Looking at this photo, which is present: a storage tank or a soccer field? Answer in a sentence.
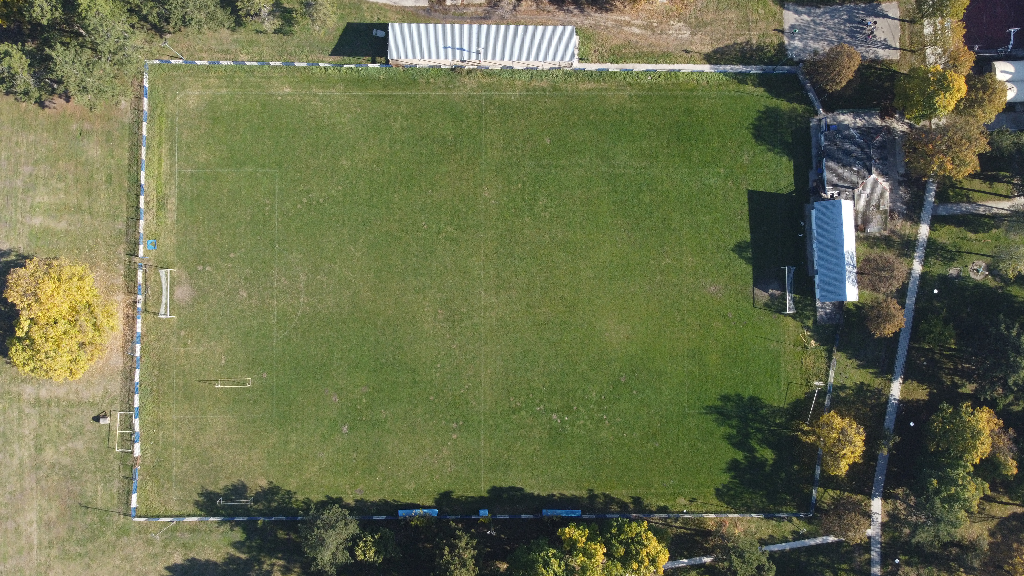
It is a soccer field that can be seen here.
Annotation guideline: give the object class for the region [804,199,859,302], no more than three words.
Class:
building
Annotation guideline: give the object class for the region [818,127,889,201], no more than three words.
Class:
building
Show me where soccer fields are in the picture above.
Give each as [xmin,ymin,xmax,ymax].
[136,64,839,518]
